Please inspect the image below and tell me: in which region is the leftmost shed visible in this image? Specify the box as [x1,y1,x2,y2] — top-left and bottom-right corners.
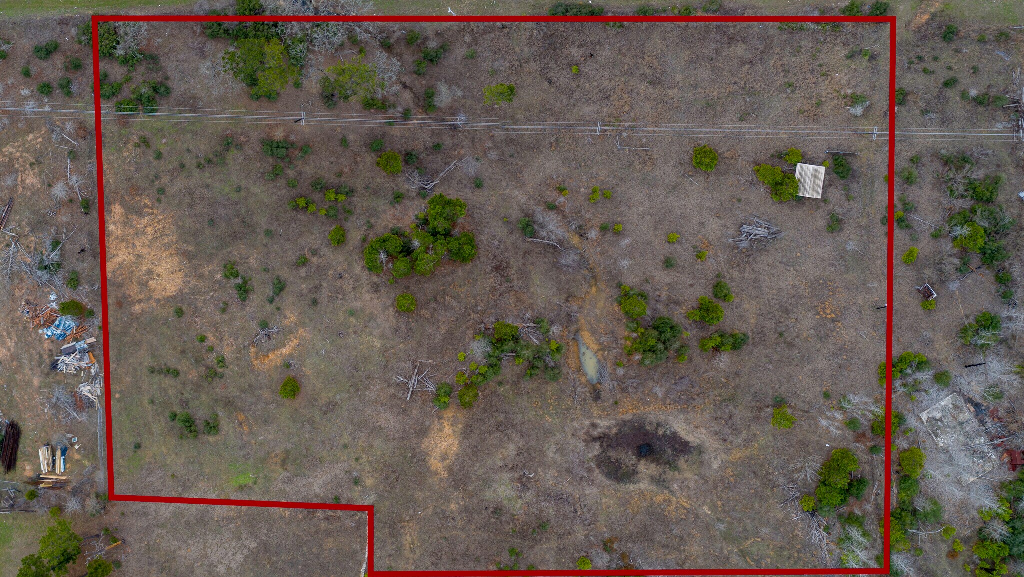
[792,163,827,199]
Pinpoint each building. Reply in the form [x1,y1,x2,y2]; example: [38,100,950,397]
[919,284,939,301]
[792,163,827,199]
